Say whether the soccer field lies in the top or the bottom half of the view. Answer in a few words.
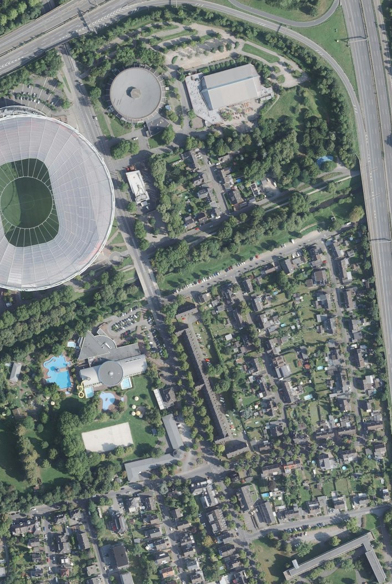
top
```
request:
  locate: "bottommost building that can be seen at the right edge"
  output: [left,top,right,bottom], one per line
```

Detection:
[285,531,389,584]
